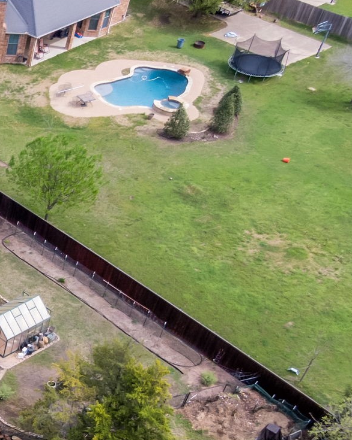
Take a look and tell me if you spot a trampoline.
Yes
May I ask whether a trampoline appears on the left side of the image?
No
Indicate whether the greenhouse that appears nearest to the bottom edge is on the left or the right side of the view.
left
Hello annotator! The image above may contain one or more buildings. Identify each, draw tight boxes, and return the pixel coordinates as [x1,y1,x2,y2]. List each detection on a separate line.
[0,290,59,357]
[0,0,127,67]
